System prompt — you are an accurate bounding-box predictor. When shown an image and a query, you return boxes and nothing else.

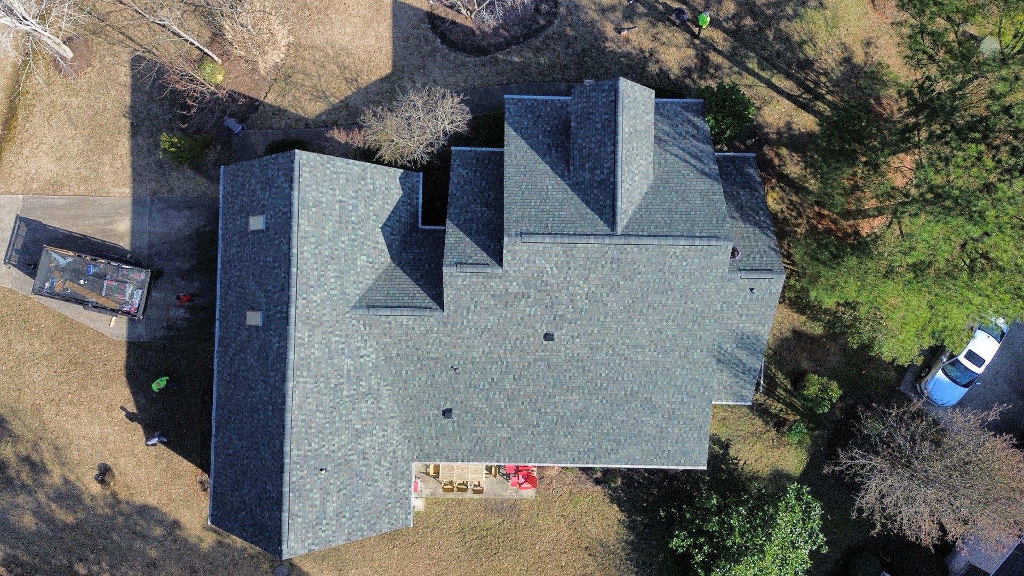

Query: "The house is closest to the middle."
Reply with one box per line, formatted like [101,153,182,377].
[204,77,785,559]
